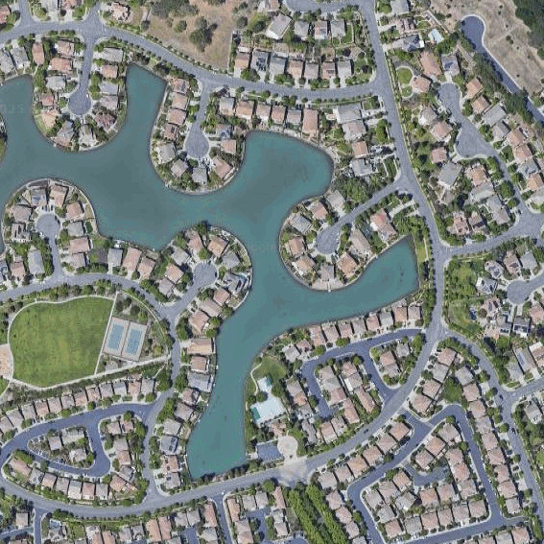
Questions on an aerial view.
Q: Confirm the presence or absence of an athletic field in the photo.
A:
Yes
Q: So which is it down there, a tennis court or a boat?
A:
tennis court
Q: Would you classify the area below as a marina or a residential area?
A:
residential area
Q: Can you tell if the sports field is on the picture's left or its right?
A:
left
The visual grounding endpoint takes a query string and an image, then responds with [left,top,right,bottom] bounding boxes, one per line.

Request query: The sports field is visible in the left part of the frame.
[9,299,113,388]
